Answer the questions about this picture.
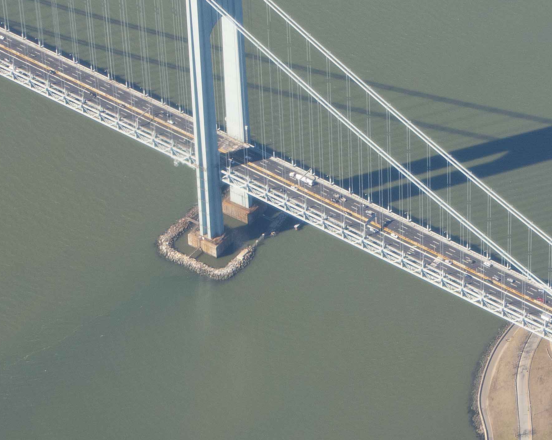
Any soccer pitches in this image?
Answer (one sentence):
No, the frame has no soccer pitch in it.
